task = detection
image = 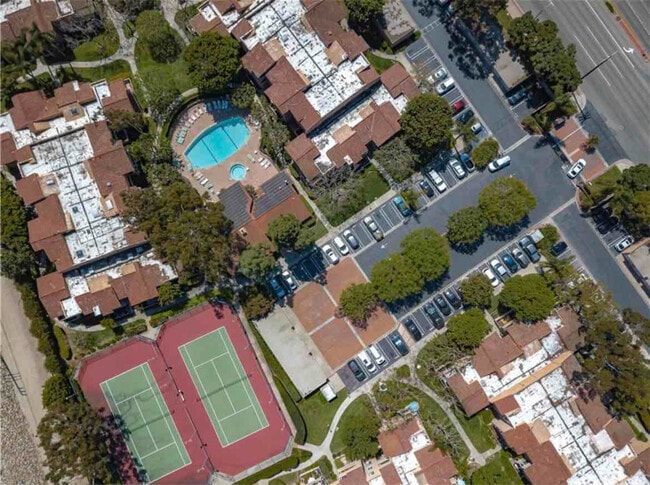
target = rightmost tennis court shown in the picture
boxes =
[156,303,291,476]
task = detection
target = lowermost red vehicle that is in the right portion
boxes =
[448,97,468,113]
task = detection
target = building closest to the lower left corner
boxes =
[36,255,177,321]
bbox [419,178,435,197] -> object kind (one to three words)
car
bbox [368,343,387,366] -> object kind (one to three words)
vehicle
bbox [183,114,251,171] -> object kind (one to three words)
swimming pool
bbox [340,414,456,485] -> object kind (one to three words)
building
